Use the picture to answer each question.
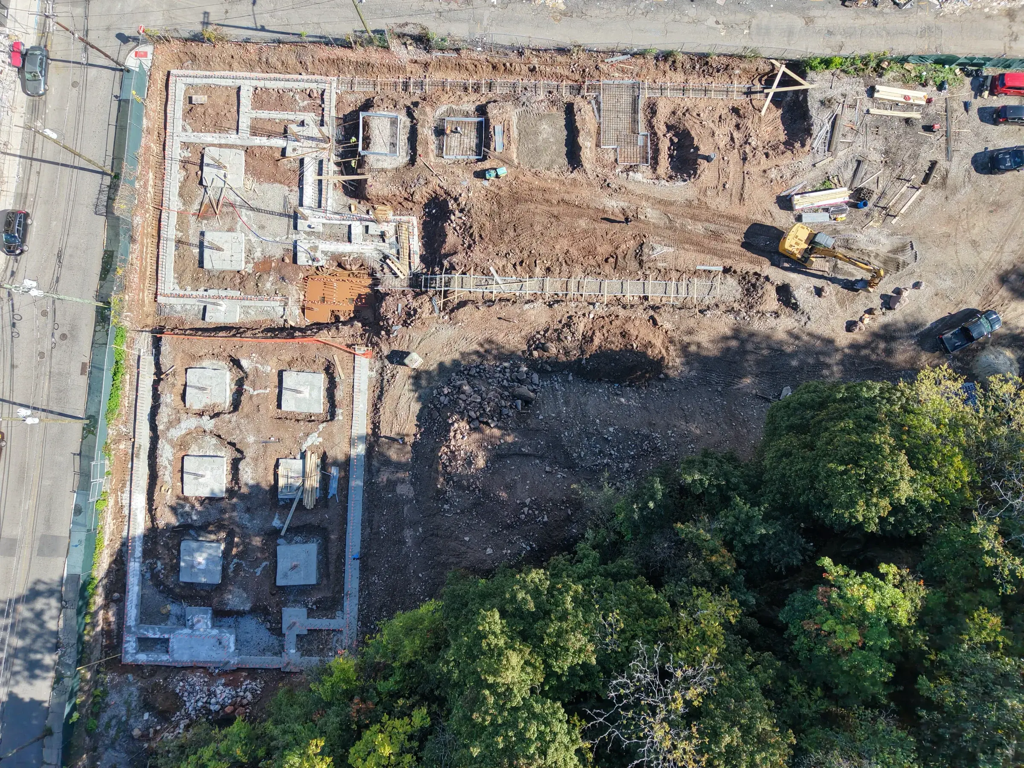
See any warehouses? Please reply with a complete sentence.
No, I can see no warehouse in this picture.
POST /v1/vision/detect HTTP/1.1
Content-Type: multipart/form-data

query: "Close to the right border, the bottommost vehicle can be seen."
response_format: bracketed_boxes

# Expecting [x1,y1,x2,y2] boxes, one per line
[934,309,1002,355]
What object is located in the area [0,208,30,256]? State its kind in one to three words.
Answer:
car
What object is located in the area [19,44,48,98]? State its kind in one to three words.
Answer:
car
